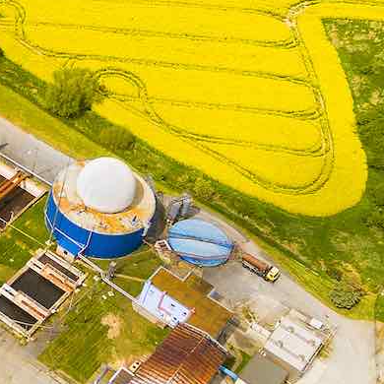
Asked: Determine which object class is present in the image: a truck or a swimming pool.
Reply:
truck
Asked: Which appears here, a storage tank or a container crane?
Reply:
storage tank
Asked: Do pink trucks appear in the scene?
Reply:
No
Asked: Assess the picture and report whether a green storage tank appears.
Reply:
No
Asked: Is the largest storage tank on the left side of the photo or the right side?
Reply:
left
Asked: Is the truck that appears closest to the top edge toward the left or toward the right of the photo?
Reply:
right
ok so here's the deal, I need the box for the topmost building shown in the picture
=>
[134,267,236,342]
